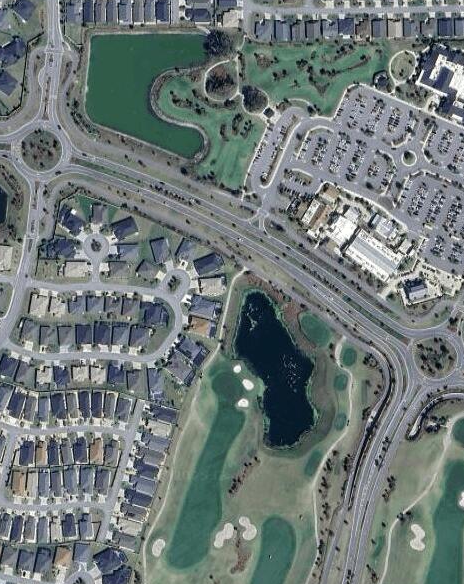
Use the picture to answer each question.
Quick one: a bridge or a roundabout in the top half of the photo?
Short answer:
roundabout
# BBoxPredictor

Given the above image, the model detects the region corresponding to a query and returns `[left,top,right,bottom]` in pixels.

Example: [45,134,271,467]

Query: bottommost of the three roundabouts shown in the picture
[403,327,464,389]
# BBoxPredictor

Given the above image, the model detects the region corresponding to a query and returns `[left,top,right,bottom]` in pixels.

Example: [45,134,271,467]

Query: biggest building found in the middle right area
[346,230,402,279]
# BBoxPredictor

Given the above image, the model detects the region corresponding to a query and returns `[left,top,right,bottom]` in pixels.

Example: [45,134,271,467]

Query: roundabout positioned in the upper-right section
[394,144,424,173]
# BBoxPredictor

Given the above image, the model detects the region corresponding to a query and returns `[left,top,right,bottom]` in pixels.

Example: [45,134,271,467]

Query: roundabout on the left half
[11,120,72,181]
